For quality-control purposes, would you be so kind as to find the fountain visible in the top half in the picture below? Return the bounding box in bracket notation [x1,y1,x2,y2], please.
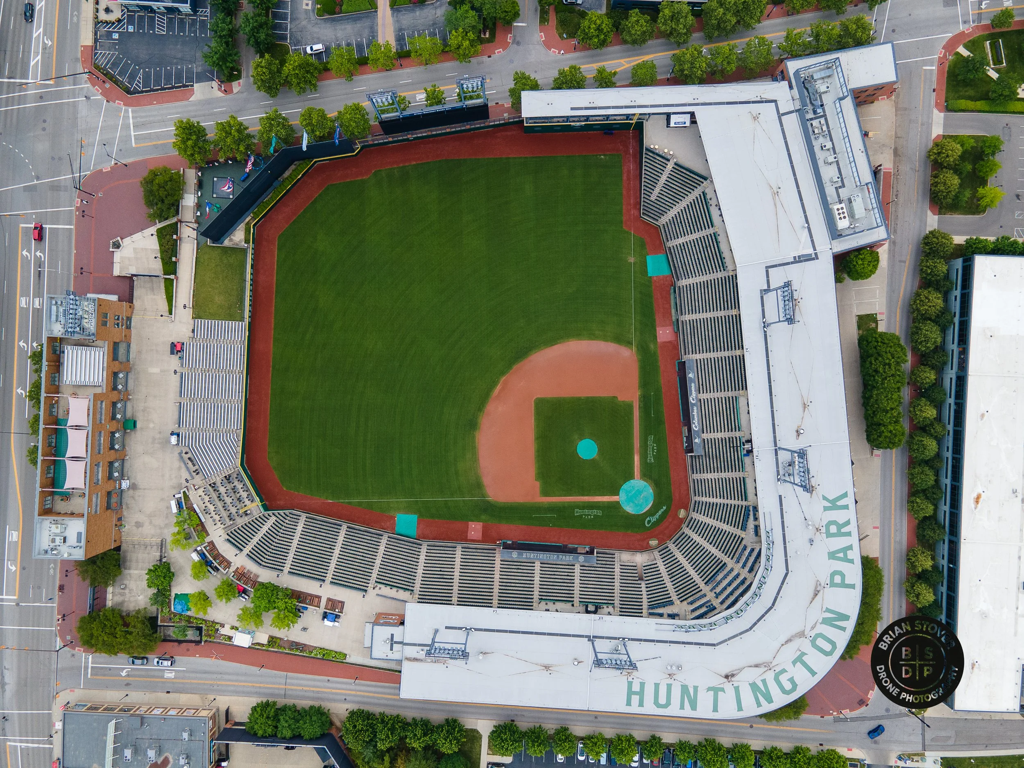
[108,235,126,252]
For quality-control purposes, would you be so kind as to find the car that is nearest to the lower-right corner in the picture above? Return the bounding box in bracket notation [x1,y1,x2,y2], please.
[866,723,885,739]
